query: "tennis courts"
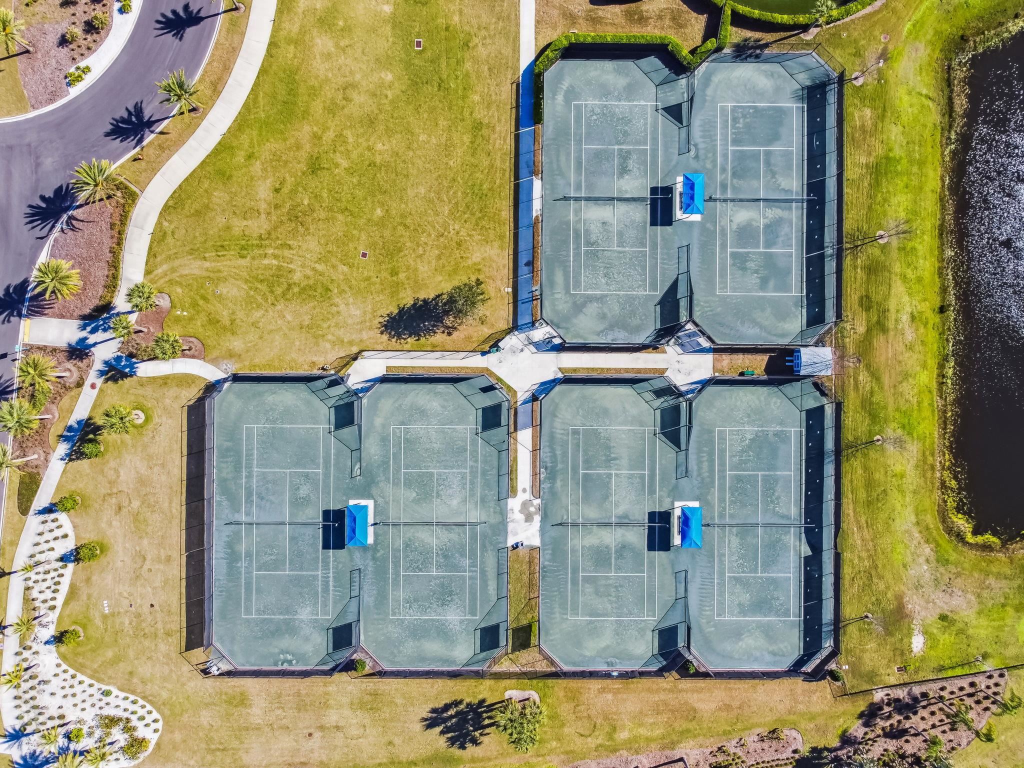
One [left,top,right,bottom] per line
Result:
[360,375,509,670]
[212,374,361,670]
[689,53,835,346]
[685,377,833,671]
[540,376,687,670]
[542,52,689,344]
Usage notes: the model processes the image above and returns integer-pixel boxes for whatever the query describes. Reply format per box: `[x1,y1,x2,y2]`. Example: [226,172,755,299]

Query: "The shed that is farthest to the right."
[786,346,834,375]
